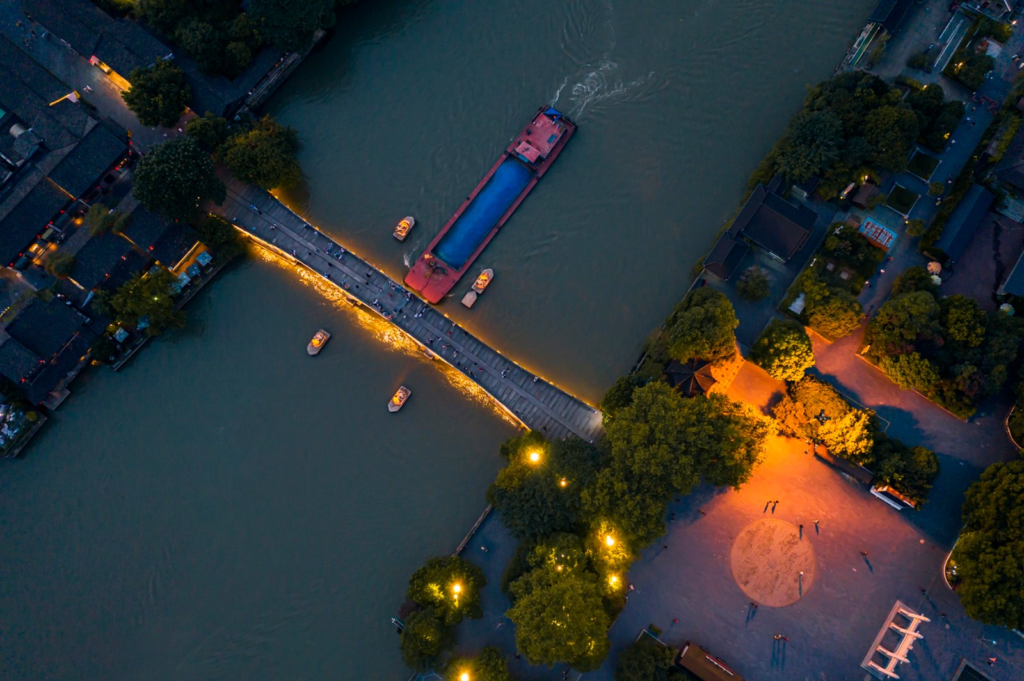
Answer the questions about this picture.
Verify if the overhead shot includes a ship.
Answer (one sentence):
Yes, the picture does show a ship.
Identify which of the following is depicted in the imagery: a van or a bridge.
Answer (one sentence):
I can see a bridge in this picture.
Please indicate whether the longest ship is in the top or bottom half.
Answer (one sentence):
The longest ship is in the top half of the image.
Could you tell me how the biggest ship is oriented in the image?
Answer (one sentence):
In this picture, the biggest ship is oriented diagonally.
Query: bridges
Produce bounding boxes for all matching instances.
[208,167,609,465]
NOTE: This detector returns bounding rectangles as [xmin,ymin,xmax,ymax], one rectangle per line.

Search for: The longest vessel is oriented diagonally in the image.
[407,105,577,301]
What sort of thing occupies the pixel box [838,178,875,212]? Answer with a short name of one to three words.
building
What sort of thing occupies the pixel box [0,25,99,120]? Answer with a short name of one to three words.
house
